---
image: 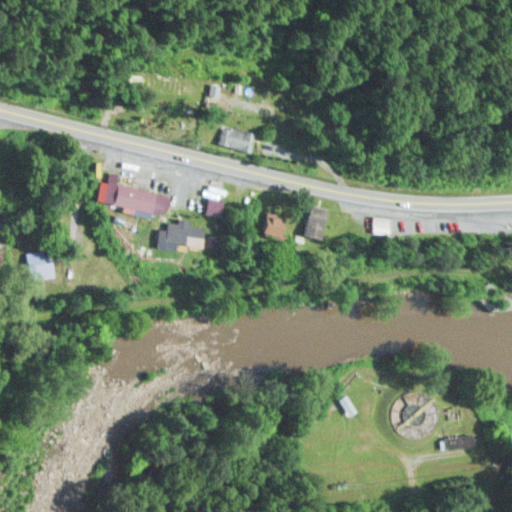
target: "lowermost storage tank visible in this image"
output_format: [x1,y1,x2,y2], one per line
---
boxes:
[390,392,438,440]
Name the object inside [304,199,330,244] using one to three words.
house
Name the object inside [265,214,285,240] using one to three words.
house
